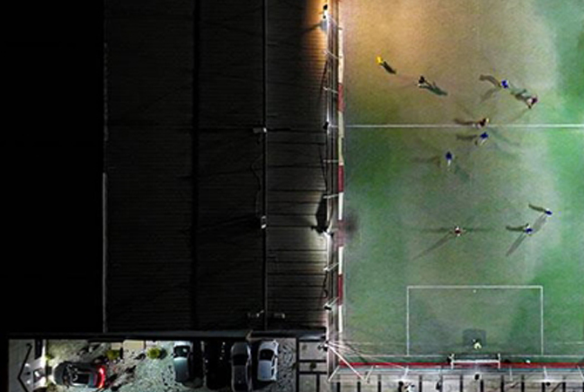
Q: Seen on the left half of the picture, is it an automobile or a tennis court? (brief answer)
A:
automobile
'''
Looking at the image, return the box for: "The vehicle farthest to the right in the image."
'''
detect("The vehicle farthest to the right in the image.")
[253,341,277,385]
